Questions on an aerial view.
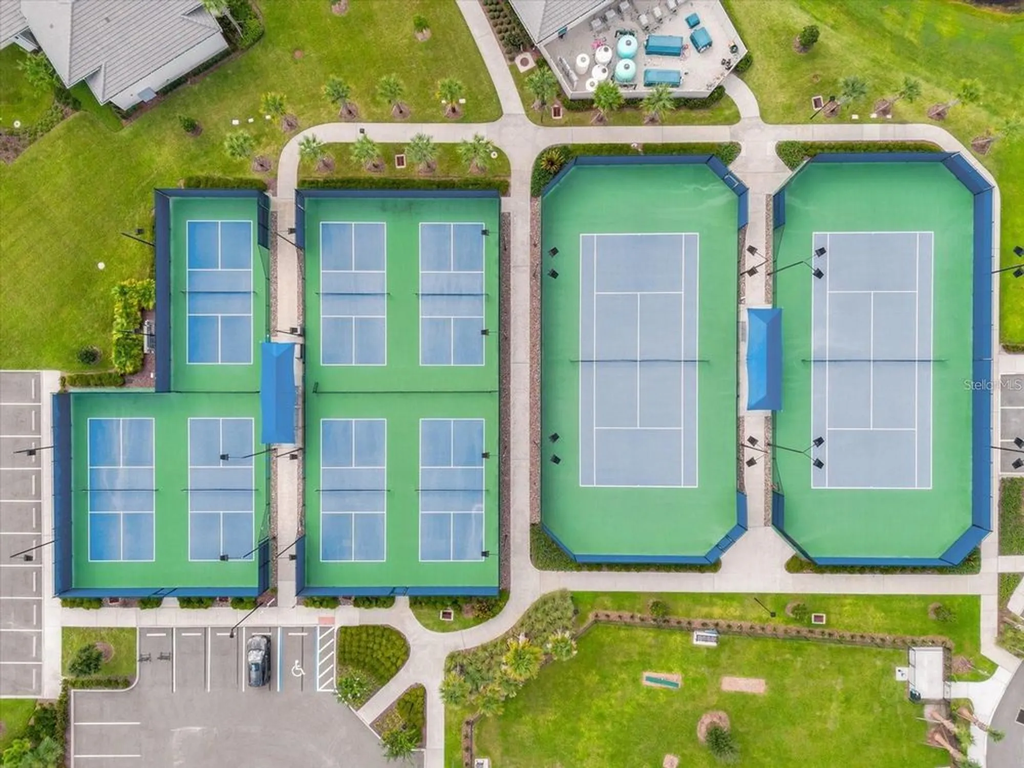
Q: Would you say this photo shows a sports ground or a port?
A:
sports ground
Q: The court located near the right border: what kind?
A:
tennis court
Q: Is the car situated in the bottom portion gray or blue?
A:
gray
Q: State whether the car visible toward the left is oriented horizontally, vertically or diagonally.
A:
vertically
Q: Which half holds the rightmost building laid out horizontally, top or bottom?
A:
top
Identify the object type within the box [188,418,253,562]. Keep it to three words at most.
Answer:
sports court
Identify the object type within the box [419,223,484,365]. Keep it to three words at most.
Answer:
sports court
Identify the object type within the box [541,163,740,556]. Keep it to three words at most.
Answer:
tennis court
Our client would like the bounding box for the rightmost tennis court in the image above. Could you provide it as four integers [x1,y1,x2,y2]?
[772,161,974,560]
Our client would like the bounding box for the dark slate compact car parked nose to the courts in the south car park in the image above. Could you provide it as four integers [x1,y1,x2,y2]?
[244,637,270,688]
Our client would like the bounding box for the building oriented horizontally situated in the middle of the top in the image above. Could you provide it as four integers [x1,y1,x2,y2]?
[505,0,621,52]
